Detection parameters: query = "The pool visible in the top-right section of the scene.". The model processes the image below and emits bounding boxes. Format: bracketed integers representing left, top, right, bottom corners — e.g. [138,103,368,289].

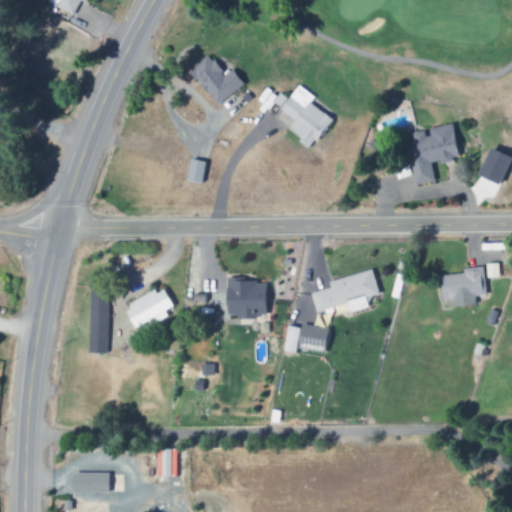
[382,116,414,130]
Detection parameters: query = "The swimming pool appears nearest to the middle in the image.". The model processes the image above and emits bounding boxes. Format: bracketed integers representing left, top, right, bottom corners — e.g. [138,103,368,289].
[254,338,268,364]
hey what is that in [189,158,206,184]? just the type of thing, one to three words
shed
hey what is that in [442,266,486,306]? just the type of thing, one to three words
house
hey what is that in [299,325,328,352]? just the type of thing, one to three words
building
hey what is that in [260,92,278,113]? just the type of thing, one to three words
camper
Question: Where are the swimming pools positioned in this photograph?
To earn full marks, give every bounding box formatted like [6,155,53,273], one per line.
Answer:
[382,116,414,130]
[254,338,268,364]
